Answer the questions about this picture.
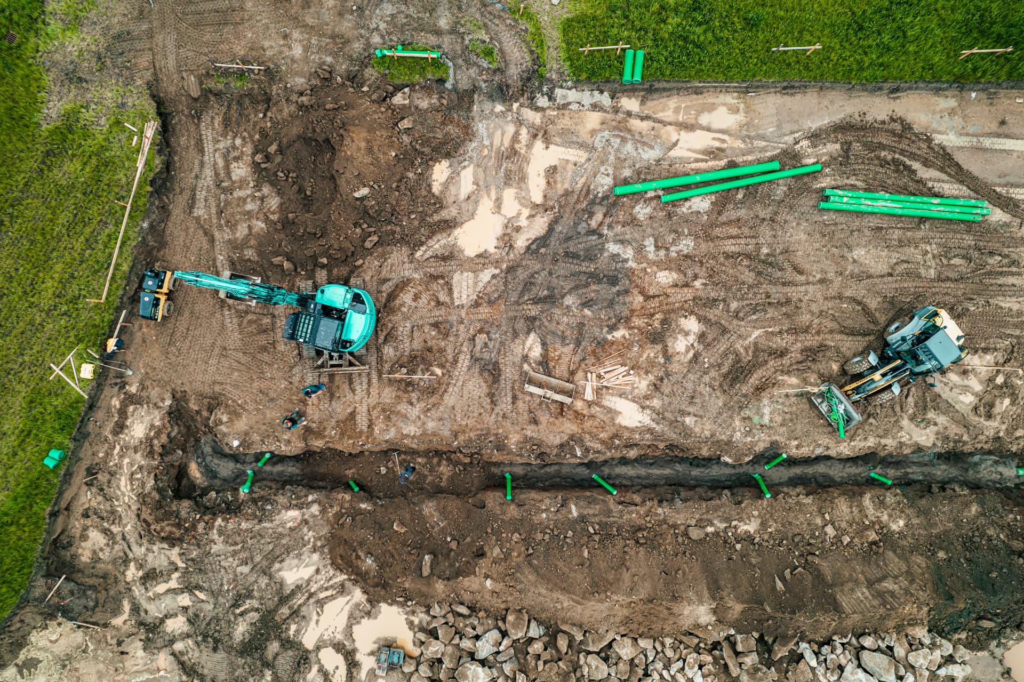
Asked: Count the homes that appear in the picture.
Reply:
0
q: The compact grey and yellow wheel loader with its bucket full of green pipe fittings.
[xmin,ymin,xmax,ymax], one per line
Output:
[810,306,968,433]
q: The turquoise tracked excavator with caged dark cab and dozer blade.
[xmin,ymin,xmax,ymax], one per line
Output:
[169,269,381,376]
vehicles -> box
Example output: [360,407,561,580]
[810,306,968,433]
[169,269,381,376]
